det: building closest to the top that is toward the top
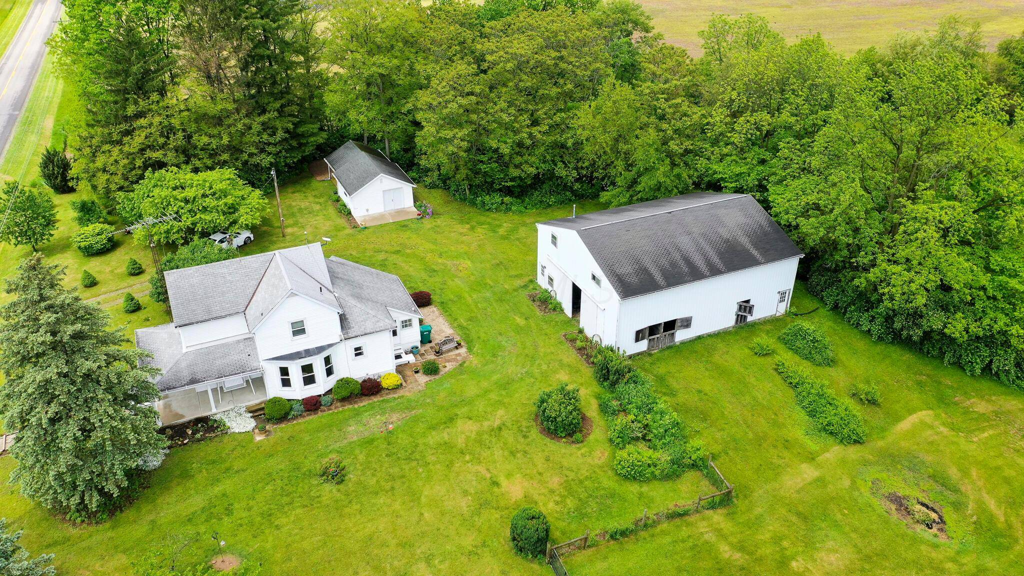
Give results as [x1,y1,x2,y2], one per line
[323,140,417,216]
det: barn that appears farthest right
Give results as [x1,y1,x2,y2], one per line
[535,190,808,356]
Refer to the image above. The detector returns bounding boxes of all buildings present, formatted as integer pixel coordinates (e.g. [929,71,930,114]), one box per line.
[323,140,417,216]
[535,190,808,356]
[134,242,425,430]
